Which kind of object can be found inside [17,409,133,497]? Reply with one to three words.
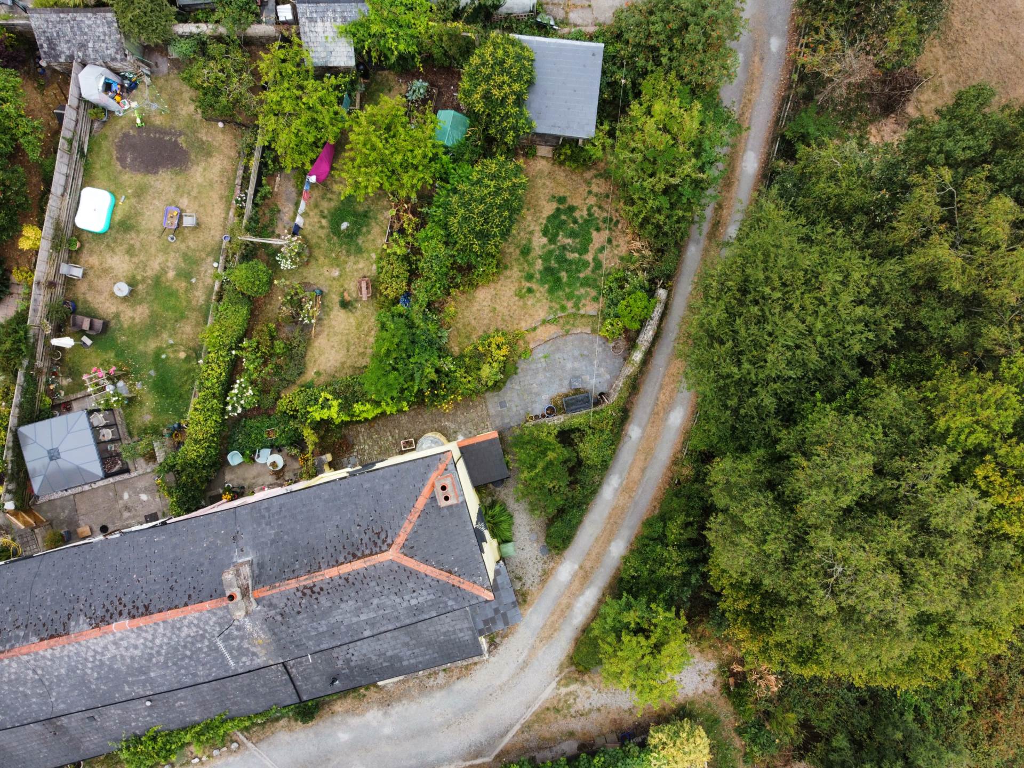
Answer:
gazebo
